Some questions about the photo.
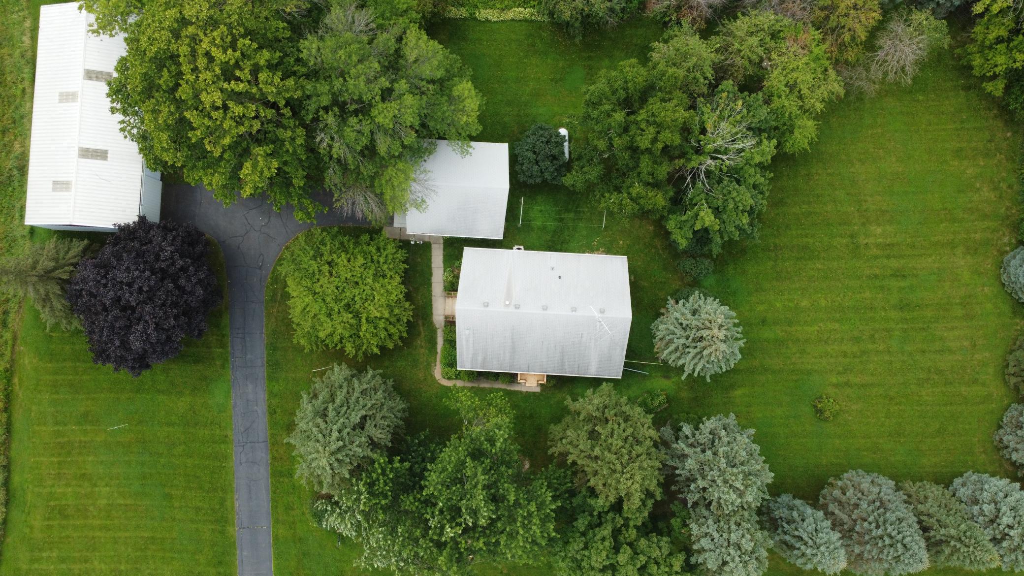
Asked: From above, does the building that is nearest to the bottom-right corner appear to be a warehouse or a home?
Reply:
home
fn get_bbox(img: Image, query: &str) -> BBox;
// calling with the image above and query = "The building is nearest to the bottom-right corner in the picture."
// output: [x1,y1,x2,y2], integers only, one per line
[455,246,632,379]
